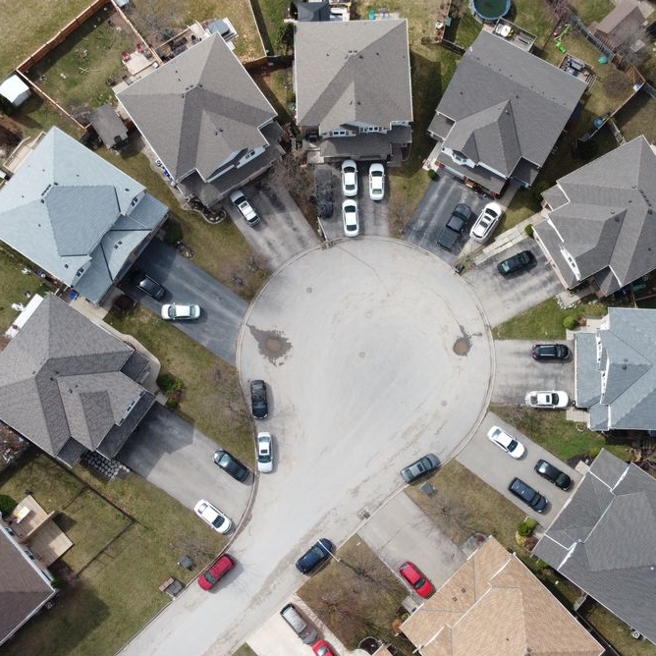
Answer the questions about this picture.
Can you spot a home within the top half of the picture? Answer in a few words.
Yes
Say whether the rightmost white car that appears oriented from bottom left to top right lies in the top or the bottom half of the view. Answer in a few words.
top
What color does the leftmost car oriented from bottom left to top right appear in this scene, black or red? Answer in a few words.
red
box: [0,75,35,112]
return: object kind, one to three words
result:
shed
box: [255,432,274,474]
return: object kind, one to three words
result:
car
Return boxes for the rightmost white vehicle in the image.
[526,390,567,409]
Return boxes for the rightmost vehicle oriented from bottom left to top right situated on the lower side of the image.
[399,453,440,483]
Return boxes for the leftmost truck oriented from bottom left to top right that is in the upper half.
[437,205,471,249]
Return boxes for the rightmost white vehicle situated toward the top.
[471,204,502,242]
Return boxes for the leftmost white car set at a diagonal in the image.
[192,498,231,535]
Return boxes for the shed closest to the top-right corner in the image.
[594,0,649,58]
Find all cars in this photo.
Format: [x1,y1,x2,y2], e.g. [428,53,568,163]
[229,191,261,227]
[398,560,433,600]
[312,640,337,656]
[293,539,334,575]
[508,478,547,513]
[255,432,274,474]
[531,342,569,360]
[192,498,231,535]
[487,425,524,459]
[399,453,440,483]
[213,448,250,483]
[250,380,268,420]
[497,251,535,275]
[197,552,236,590]
[533,458,572,491]
[129,270,167,300]
[342,201,359,236]
[161,304,200,321]
[526,390,567,409]
[341,162,358,198]
[367,166,384,200]
[471,204,502,242]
